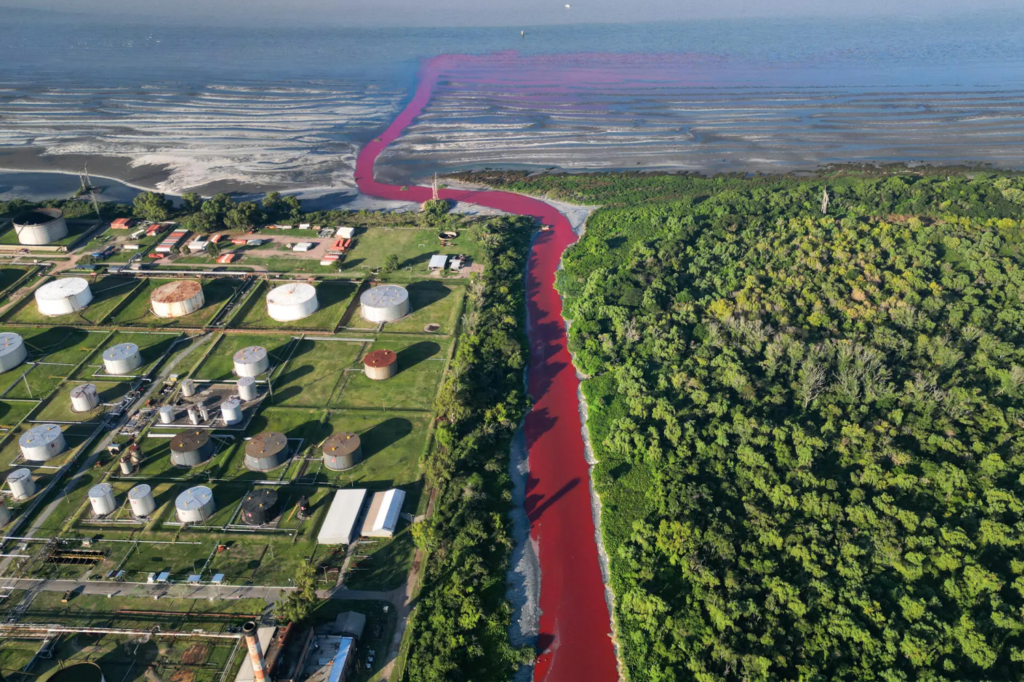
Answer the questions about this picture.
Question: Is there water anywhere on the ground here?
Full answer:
Yes, there's water in this view.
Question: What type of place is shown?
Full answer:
This image shows an industrial area.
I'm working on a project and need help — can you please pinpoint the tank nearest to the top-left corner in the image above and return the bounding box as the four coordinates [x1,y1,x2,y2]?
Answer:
[9,206,74,245]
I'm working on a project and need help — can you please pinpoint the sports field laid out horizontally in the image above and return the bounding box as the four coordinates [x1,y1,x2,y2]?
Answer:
[340,227,482,272]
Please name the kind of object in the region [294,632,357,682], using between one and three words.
building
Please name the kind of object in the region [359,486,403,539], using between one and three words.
shed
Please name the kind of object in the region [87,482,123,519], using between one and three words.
storage tank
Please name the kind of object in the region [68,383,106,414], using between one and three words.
storage tank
